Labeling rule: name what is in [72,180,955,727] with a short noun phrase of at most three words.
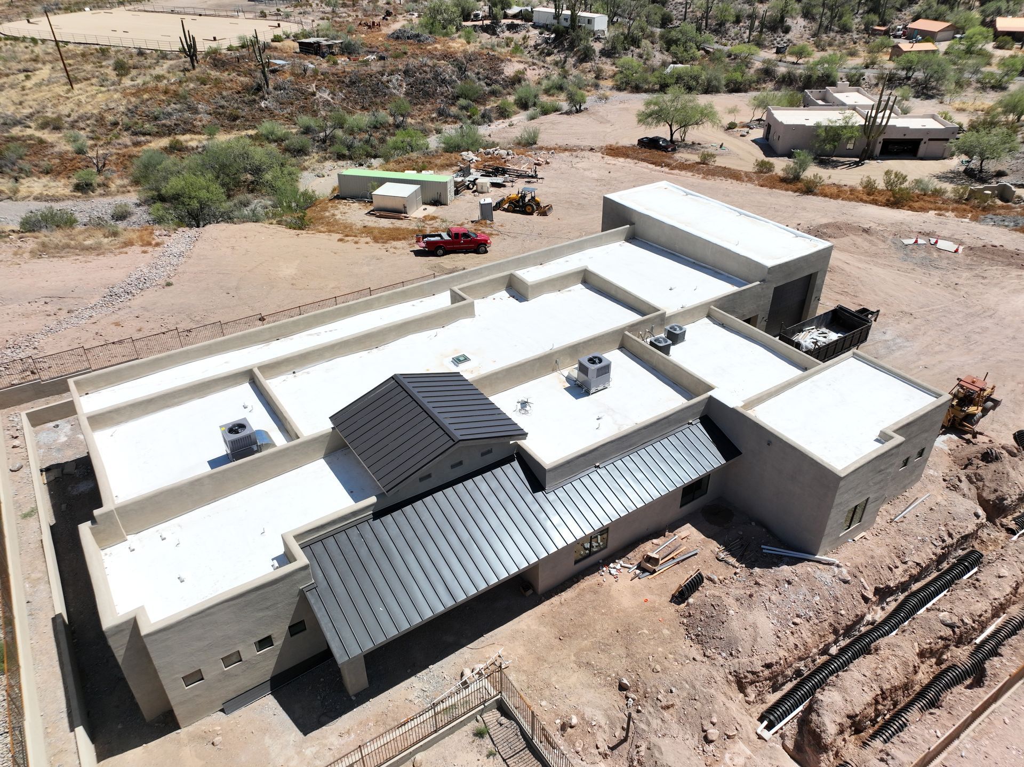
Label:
house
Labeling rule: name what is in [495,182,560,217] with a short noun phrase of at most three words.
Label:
work vehicle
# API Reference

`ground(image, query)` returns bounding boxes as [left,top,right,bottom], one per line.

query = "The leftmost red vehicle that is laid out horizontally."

[419,228,494,256]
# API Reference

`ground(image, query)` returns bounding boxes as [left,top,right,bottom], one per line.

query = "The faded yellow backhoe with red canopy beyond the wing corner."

[948,376,1016,437]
